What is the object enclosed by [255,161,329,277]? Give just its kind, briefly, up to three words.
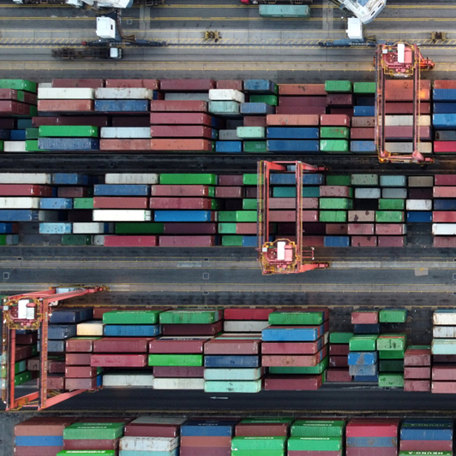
container crane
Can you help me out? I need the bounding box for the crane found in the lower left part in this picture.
[0,286,102,414]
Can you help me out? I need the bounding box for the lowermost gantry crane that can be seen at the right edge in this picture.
[372,41,434,164]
